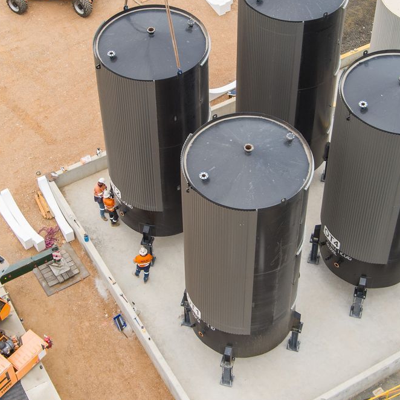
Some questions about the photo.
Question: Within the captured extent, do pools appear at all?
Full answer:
No, the frame has no pool in it.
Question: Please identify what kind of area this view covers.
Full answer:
The area seen from above is an industrial area.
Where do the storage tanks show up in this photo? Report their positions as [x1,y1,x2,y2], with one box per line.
[232,0,348,171]
[367,0,400,51]
[305,46,400,299]
[92,2,213,247]
[171,108,316,371]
